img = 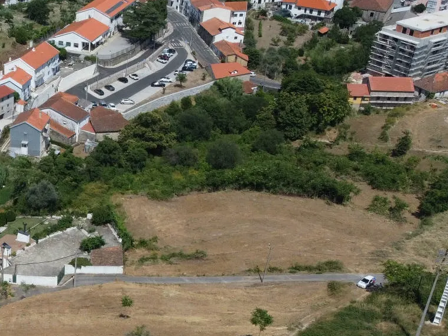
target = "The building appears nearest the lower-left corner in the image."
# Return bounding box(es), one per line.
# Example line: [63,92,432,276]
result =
[0,230,35,273]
